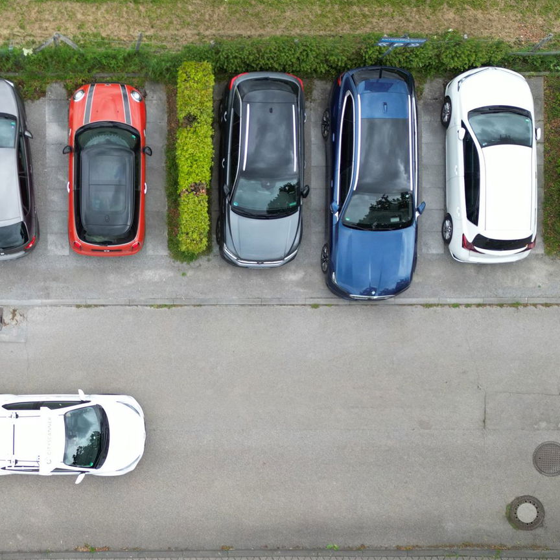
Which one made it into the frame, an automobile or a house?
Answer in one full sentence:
Visible in the photo is an automobile.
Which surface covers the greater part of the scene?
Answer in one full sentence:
What you mostly see from above here is paved ground.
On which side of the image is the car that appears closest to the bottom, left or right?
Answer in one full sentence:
You can find the car that appears closest to the bottom on the left side of the picture.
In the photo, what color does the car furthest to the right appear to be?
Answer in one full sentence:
In this view, the car furthest to the right is white.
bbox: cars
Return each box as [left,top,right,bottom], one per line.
[60,83,155,258]
[0,387,146,484]
[443,67,548,264]
[217,74,316,269]
[323,70,430,300]
[0,77,42,261]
